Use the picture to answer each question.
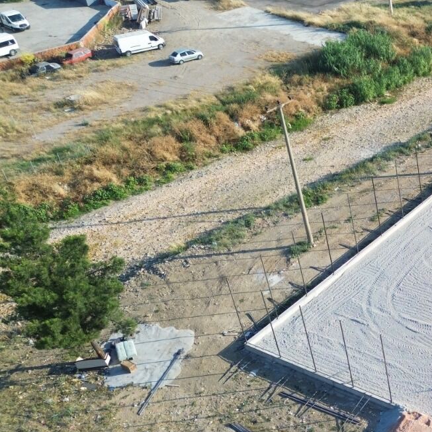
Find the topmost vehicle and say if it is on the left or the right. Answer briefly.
left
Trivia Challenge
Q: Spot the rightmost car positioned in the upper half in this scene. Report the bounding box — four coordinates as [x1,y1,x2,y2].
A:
[168,48,205,64]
